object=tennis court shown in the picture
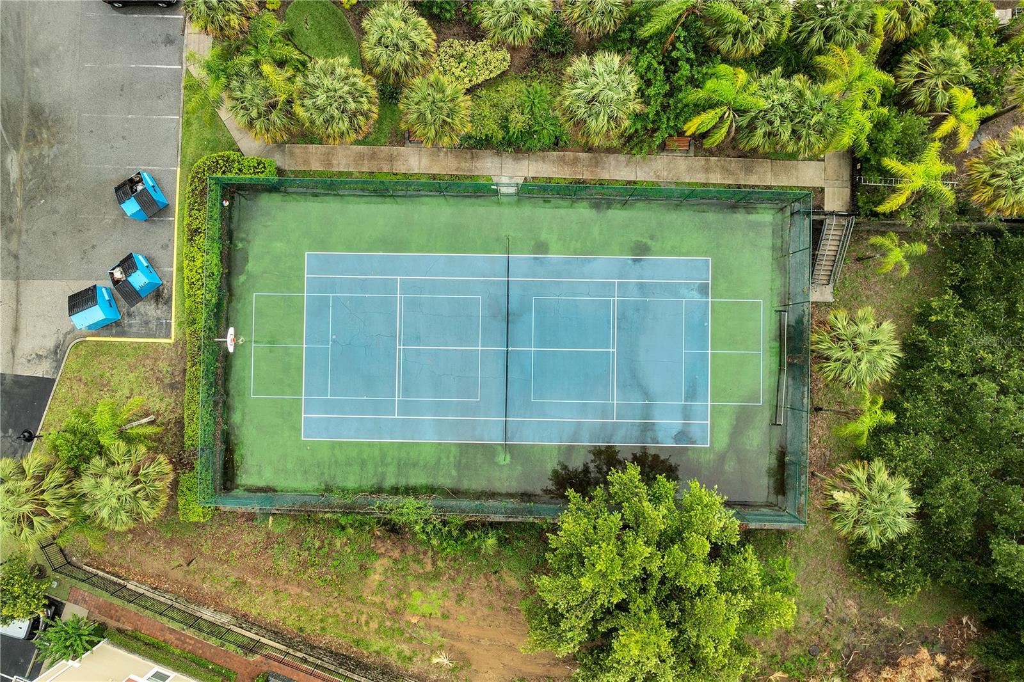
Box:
[220,186,802,530]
